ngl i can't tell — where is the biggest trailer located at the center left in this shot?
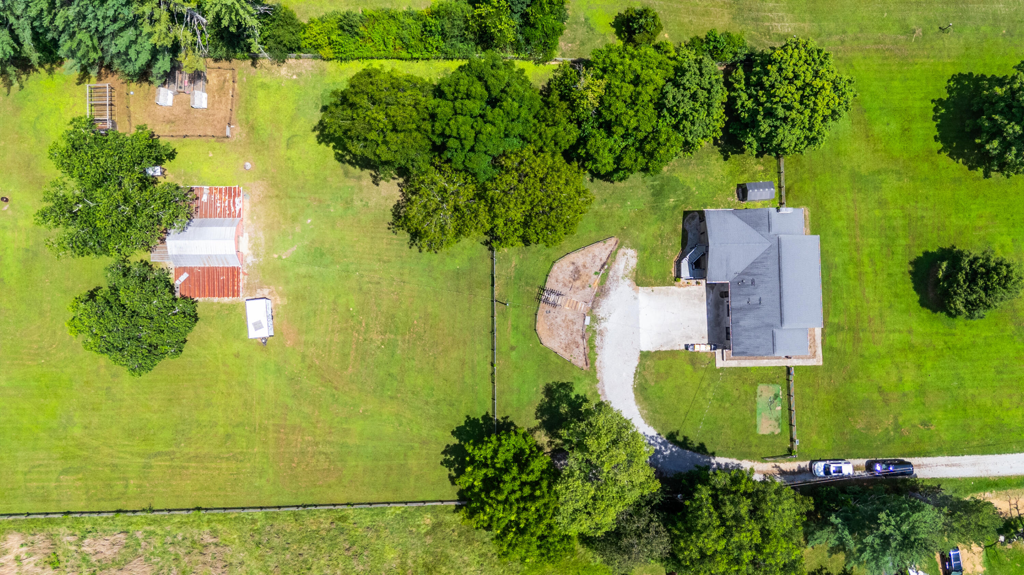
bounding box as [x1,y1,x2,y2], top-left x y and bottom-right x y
[245,298,275,348]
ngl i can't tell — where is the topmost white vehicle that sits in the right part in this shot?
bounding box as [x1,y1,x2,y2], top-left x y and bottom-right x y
[811,460,855,480]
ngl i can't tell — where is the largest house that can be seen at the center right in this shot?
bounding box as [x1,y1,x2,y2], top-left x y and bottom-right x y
[698,203,821,357]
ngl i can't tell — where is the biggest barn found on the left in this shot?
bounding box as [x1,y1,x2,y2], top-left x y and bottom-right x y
[150,185,245,298]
